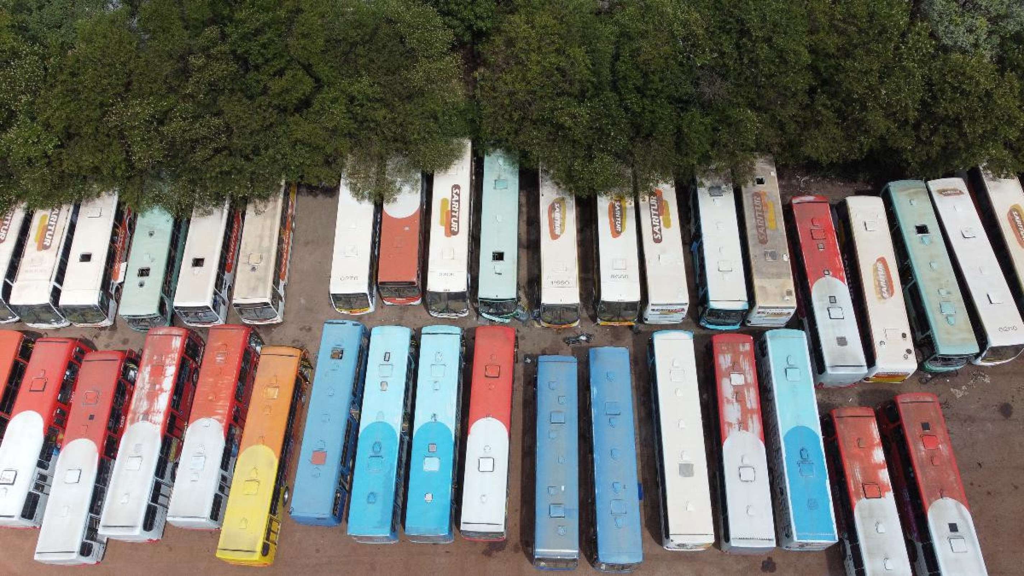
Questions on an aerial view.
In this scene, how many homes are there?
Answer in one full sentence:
Not a single home can be seen.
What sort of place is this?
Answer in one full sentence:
The area seen from above is a parking lot.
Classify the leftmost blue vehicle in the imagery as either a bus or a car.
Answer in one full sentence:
I'd say the leftmost blue vehicle is a bus.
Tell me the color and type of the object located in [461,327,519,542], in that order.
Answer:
white bus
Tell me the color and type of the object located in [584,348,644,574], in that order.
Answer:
blue bus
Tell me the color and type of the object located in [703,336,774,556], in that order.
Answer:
white bus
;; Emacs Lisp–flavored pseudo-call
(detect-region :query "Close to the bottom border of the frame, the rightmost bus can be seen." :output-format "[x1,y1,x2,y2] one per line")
[876,395,986,576]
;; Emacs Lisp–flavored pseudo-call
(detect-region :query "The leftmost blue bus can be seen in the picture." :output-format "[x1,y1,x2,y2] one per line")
[290,323,371,529]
